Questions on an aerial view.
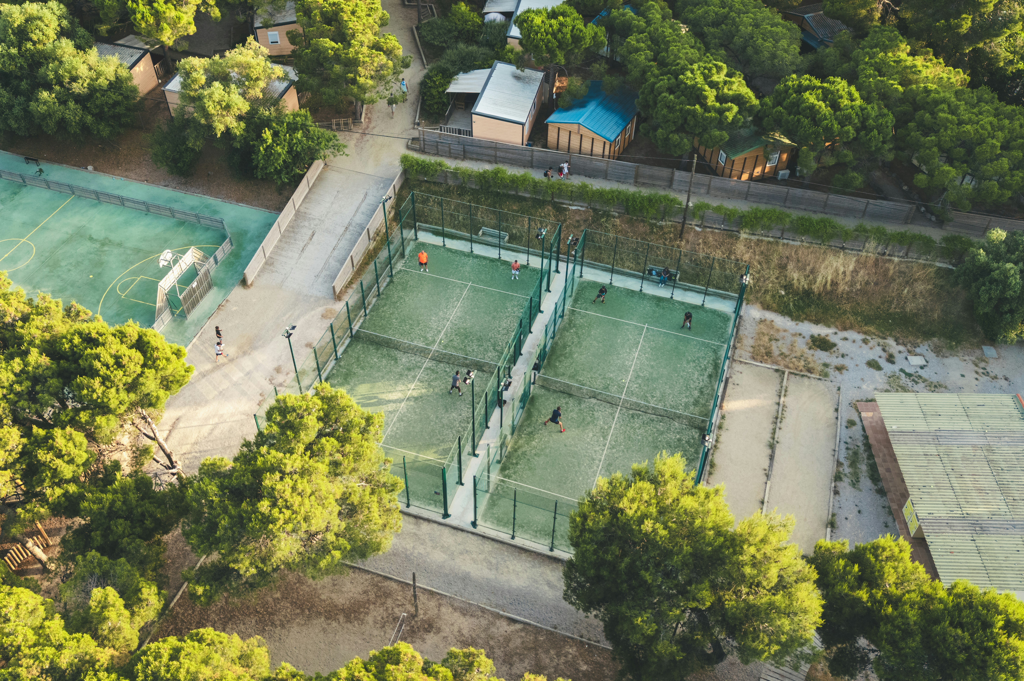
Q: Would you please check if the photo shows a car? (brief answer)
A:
No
